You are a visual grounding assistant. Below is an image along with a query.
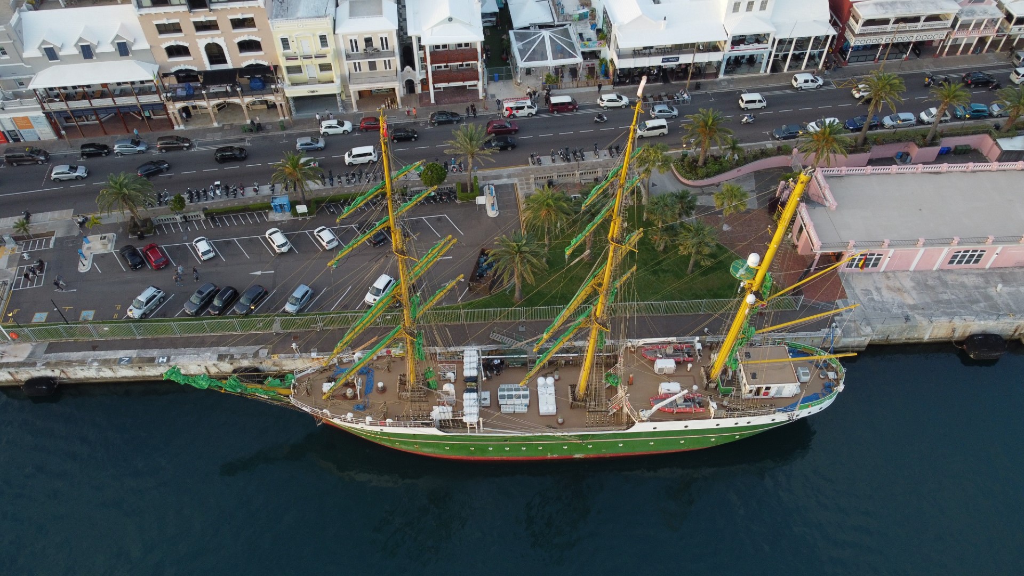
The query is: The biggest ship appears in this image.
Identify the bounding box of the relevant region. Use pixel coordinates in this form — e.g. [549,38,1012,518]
[162,80,869,460]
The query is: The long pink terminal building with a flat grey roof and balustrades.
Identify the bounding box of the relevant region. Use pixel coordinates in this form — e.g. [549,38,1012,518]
[790,156,1024,275]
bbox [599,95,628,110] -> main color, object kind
white car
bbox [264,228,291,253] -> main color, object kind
white car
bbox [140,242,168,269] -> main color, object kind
red car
